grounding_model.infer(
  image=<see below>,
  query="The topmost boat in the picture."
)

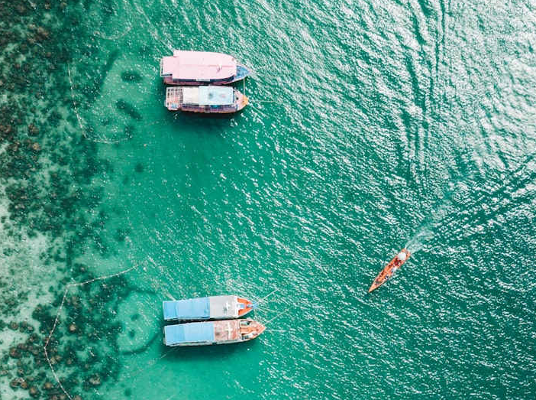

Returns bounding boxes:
[161,42,273,96]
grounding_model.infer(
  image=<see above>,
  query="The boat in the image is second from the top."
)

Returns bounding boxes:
[163,86,262,120]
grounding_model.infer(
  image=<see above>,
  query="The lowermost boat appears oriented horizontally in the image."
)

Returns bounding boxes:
[162,313,287,354]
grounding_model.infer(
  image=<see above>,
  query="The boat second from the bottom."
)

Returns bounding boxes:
[162,291,274,320]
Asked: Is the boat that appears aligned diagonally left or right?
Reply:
right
